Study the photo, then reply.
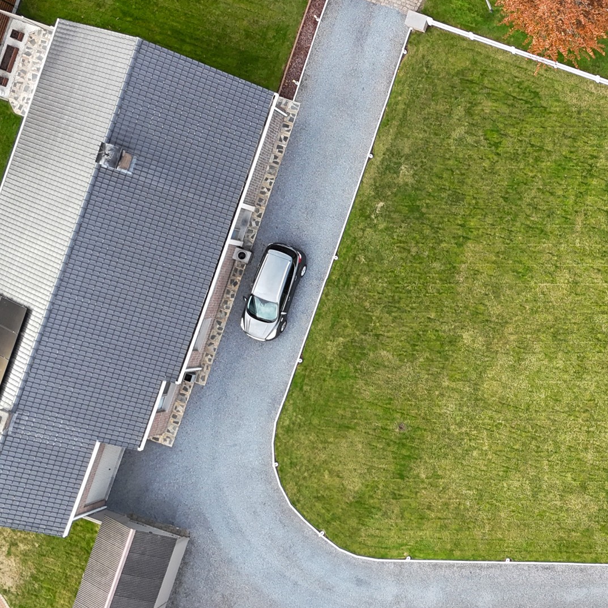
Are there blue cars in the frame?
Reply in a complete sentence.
No, I can't see a single blue car in this photo.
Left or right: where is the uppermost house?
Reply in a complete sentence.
You can find the uppermost house on the left side of the picture.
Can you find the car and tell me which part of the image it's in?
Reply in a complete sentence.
The car is in the center part of the image.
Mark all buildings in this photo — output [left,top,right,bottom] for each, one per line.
[73,515,188,608]
[0,17,286,541]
